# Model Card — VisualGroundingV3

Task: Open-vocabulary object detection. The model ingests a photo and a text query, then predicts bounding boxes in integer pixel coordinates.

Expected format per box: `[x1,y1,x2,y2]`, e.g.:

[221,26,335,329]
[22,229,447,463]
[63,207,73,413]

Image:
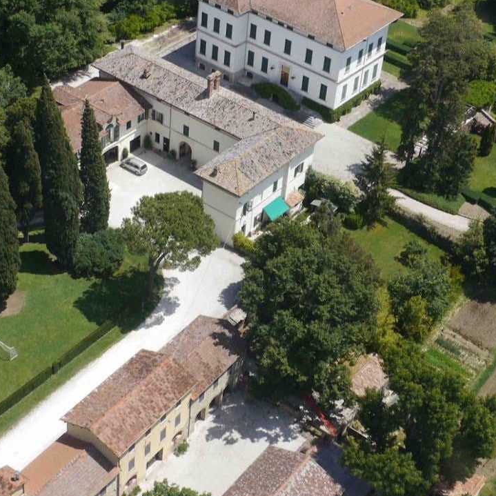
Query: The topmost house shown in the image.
[195,0,404,109]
